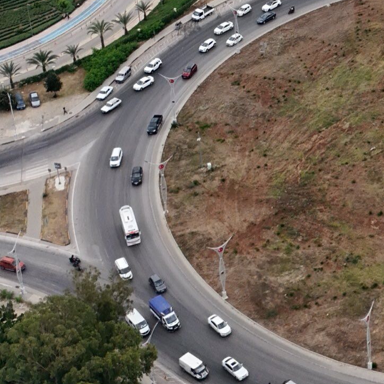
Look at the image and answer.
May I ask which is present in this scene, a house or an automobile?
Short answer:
automobile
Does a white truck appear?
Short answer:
Yes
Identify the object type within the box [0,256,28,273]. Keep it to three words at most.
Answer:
car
